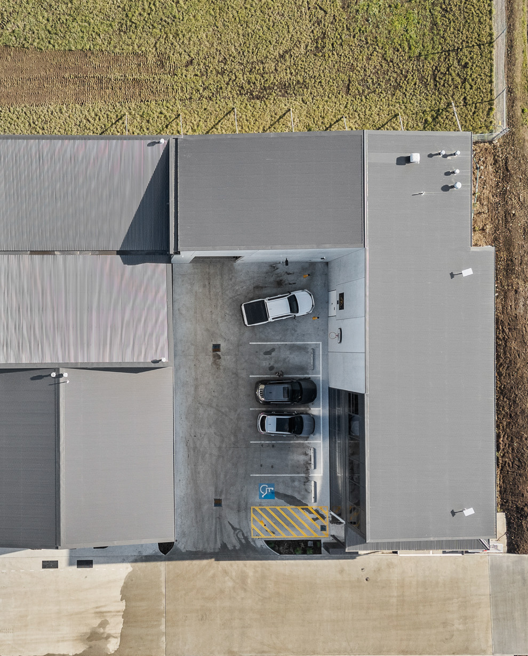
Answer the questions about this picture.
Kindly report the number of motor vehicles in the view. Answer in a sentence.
There are 3 motor vehicles in the image.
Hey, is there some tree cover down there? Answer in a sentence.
No, tree cover can't be seen anywhere here.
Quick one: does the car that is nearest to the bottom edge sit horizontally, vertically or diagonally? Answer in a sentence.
The car that is nearest to the bottom edge is oriented horizontally.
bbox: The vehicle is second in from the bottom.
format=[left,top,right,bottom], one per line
[254,377,318,408]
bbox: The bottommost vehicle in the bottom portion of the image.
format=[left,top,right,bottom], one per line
[256,410,315,440]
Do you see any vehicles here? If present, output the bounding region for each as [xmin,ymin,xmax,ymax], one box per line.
[256,410,315,440]
[242,291,317,326]
[254,377,318,408]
